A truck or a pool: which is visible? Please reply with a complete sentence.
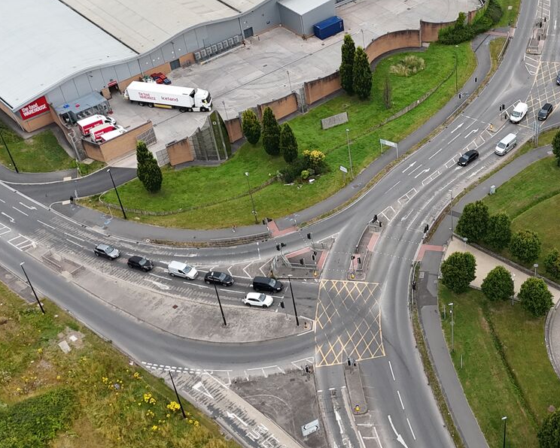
Of the two, only a truck appears.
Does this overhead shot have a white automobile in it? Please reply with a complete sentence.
Yes, a white automobile is visible in the scene.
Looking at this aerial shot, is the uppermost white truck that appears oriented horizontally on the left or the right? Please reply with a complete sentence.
The uppermost white truck that appears oriented horizontally appears in the left half of the scene.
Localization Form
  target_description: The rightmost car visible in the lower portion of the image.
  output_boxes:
[239,288,275,307]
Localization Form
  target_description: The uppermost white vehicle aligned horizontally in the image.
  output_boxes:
[121,75,216,113]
